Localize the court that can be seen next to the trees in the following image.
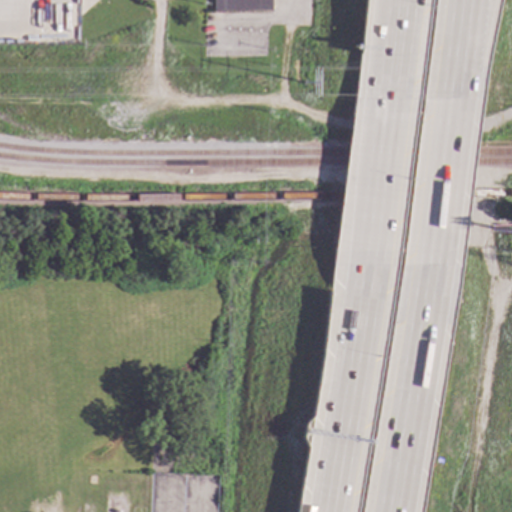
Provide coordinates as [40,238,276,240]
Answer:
[152,473,220,512]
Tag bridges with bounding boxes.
[302,0,505,512]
